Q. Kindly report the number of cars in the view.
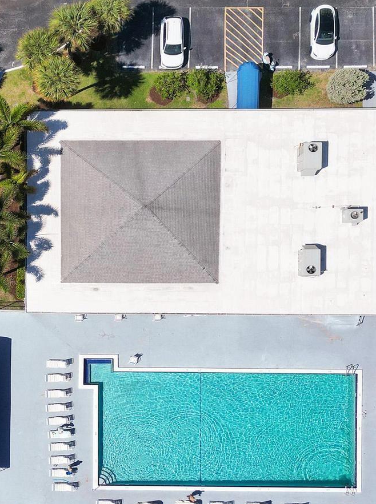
2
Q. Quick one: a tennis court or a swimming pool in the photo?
swimming pool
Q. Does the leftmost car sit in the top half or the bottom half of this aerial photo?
top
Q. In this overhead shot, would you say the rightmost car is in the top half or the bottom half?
top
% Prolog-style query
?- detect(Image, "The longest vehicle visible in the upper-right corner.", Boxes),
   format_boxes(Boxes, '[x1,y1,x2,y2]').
[310,5,339,61]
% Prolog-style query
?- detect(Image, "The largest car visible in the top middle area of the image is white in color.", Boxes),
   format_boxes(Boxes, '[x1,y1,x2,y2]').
[159,15,187,69]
